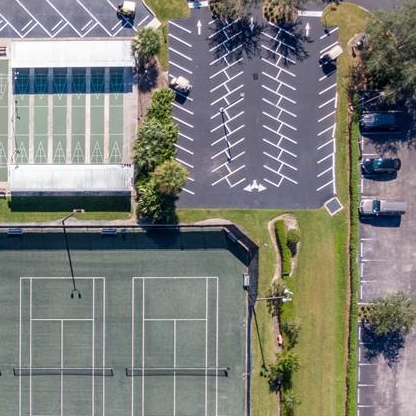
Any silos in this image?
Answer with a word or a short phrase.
No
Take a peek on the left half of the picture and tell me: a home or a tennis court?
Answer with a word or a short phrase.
tennis court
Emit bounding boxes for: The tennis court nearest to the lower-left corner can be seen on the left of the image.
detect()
[20,276,105,416]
